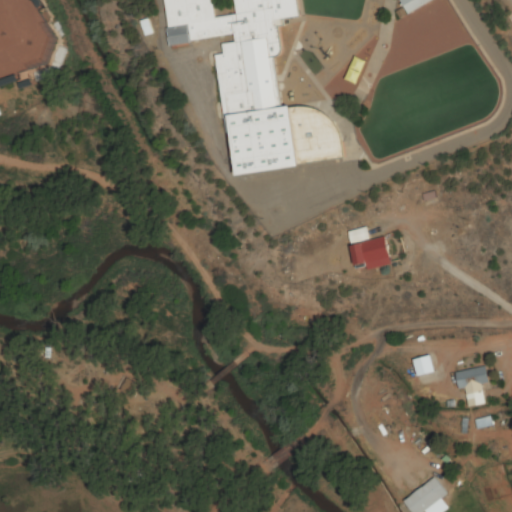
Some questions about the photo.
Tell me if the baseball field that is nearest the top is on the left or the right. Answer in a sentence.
It is on the left.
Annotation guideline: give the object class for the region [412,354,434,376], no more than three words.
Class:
house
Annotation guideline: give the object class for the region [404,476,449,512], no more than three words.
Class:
barn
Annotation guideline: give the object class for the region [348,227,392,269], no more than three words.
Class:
house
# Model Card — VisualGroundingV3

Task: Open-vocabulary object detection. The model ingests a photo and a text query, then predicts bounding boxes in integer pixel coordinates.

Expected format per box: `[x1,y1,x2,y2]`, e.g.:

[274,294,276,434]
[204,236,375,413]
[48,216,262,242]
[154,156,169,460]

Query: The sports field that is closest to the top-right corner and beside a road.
[361,0,502,162]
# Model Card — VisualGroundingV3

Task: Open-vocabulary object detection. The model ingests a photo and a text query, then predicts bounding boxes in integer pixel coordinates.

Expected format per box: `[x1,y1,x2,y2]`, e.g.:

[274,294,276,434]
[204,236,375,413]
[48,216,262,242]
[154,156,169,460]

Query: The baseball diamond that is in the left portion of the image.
[0,0,56,79]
